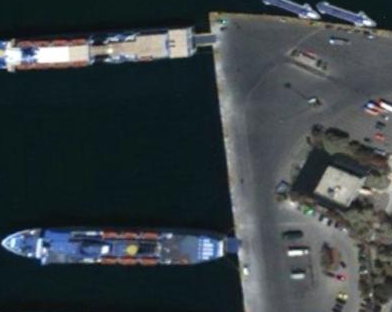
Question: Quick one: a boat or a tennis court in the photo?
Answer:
boat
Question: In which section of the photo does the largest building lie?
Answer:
right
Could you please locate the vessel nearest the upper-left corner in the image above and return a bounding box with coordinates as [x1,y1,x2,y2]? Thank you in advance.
[0,27,215,72]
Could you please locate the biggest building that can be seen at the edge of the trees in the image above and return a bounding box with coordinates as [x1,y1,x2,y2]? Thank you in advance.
[303,163,366,207]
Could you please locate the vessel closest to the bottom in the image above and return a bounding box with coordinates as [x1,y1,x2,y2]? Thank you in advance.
[1,227,240,266]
